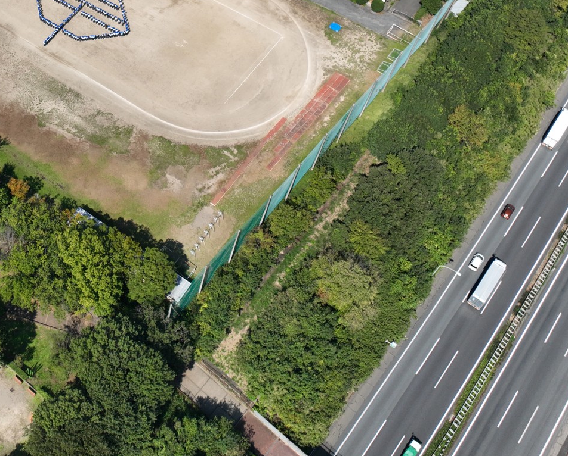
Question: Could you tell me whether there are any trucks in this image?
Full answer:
Yes, there is a truck in the image.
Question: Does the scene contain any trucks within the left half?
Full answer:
No, within the left half there is no truck.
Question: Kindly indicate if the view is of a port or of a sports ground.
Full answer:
What you see here is a sports ground.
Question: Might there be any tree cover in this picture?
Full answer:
Yes, some tree cover is visible.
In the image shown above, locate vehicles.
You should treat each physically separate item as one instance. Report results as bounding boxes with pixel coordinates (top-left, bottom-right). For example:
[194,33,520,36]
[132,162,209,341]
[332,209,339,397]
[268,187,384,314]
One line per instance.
[539,113,568,153]
[500,203,514,221]
[467,253,484,274]
[465,263,503,314]
[398,429,427,456]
